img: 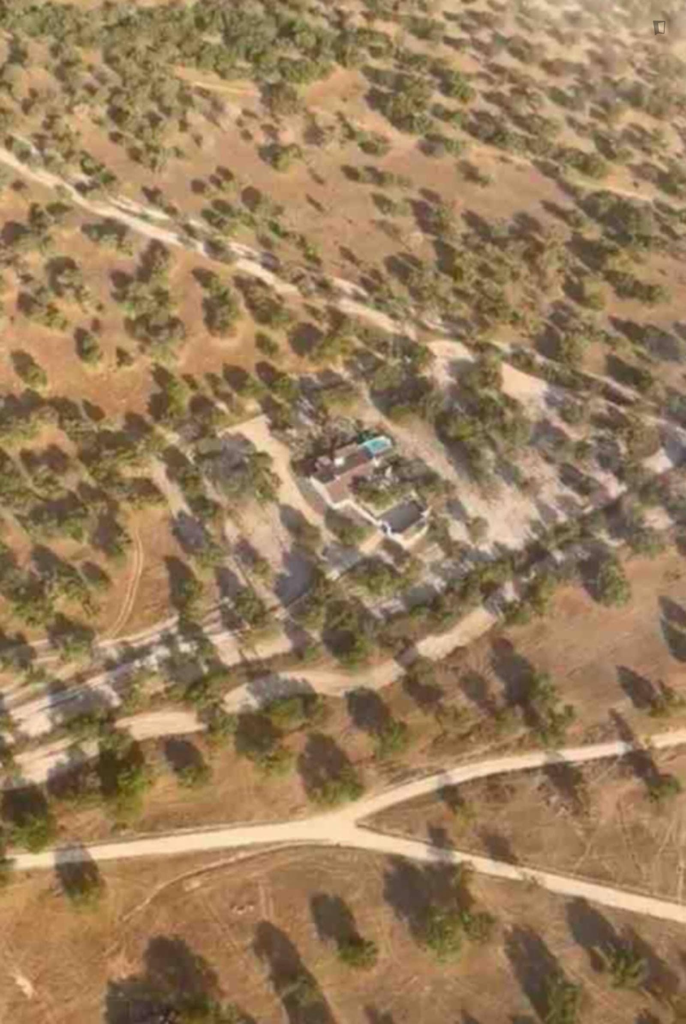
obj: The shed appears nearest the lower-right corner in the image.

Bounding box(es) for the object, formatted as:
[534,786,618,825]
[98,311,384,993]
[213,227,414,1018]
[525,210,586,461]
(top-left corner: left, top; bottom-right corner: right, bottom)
[372,502,428,535]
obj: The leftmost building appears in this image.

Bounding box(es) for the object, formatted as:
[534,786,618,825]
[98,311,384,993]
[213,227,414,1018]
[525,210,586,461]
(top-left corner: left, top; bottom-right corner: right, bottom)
[305,451,385,511]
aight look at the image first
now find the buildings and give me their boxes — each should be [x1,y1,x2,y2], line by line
[305,451,385,511]
[372,502,428,535]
